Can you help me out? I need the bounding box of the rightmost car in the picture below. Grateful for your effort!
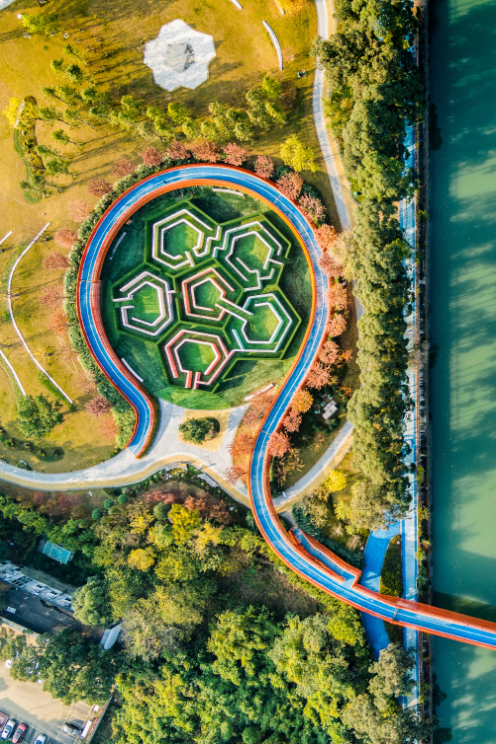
[63,723,83,736]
